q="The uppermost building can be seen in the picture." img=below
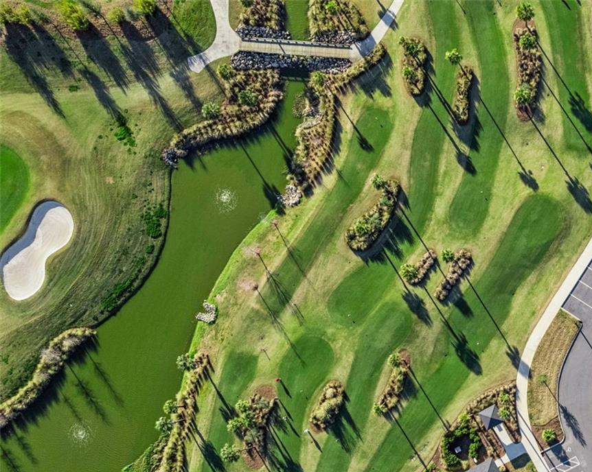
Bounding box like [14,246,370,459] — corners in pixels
[478,404,503,429]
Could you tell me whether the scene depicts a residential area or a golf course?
golf course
